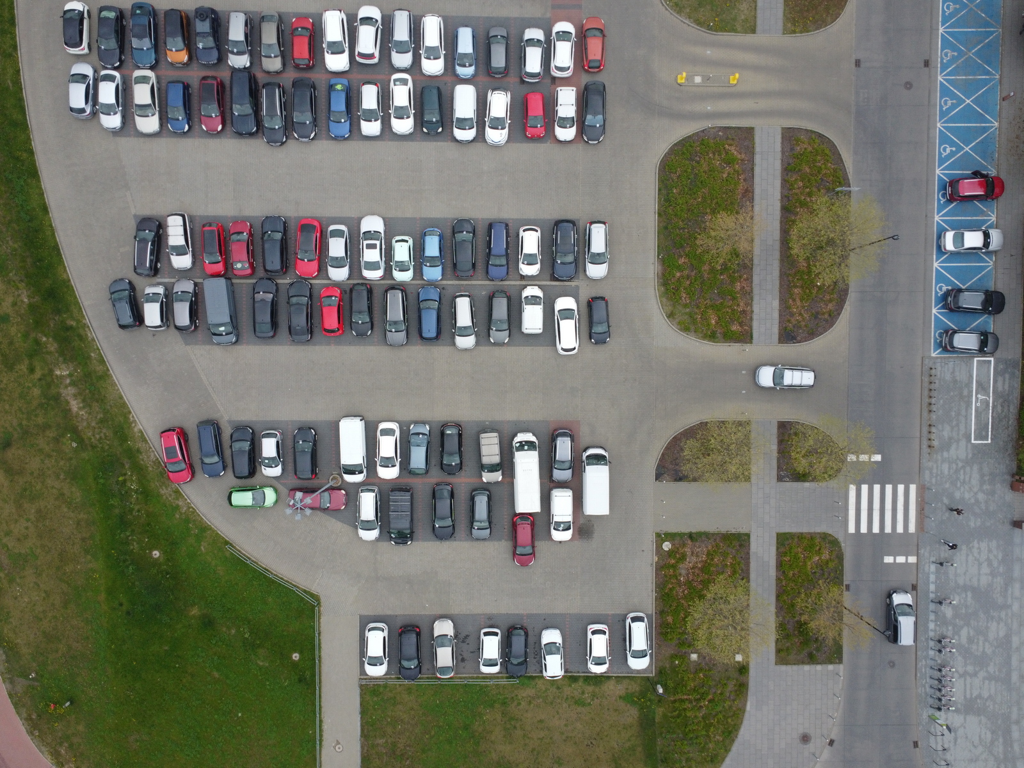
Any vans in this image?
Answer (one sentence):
Yes, a van appears in the view.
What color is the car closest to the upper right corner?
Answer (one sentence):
The car closest to the upper right corner is red.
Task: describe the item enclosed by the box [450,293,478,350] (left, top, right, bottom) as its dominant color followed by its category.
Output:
white car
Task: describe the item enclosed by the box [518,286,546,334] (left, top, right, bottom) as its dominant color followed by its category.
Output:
white van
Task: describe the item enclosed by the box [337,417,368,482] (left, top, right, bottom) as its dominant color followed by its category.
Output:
white van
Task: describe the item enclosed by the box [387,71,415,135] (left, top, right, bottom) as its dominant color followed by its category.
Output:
white car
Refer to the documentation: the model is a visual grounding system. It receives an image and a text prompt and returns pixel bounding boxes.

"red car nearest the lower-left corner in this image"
[158,426,194,484]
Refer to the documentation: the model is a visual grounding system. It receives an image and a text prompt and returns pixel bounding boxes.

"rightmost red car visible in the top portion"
[948,167,1005,203]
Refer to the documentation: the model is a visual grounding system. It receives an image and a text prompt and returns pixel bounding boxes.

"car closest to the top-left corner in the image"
[57,0,92,55]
